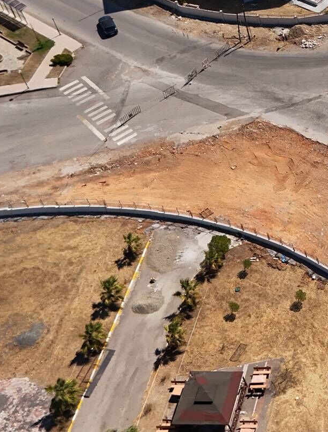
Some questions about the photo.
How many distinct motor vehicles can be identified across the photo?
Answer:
1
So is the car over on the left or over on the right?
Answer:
left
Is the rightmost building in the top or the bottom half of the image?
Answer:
bottom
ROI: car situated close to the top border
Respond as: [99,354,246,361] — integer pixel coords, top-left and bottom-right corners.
[94,13,117,36]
